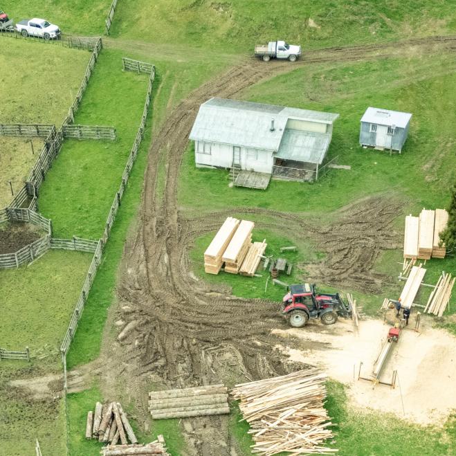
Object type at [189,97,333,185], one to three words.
house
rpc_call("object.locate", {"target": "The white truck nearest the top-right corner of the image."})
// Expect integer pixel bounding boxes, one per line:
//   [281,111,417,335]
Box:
[255,39,301,62]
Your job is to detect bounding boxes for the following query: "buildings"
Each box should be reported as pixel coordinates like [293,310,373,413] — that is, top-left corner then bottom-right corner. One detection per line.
[189,97,333,185]
[362,105,408,150]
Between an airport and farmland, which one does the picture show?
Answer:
farmland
